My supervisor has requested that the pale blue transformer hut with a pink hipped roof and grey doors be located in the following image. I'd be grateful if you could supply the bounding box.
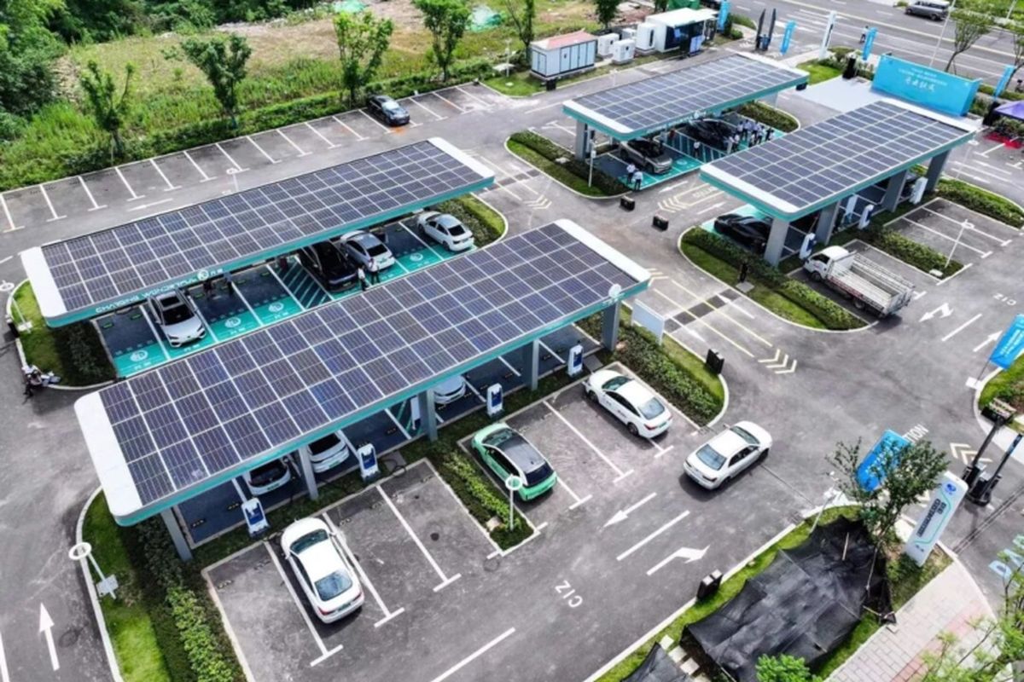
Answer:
[527,33,601,77]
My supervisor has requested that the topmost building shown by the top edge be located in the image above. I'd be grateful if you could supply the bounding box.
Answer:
[651,3,724,50]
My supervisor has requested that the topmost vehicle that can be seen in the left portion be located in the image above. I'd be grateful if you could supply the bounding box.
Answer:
[366,95,410,125]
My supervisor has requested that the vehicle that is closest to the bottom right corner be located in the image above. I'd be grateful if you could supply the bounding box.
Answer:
[685,419,771,493]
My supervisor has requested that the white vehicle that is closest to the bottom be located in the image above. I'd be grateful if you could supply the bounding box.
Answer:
[279,515,364,626]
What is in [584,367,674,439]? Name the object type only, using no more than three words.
car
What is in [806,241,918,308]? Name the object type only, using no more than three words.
truck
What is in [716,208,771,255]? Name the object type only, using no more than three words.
car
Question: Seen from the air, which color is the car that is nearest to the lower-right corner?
white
